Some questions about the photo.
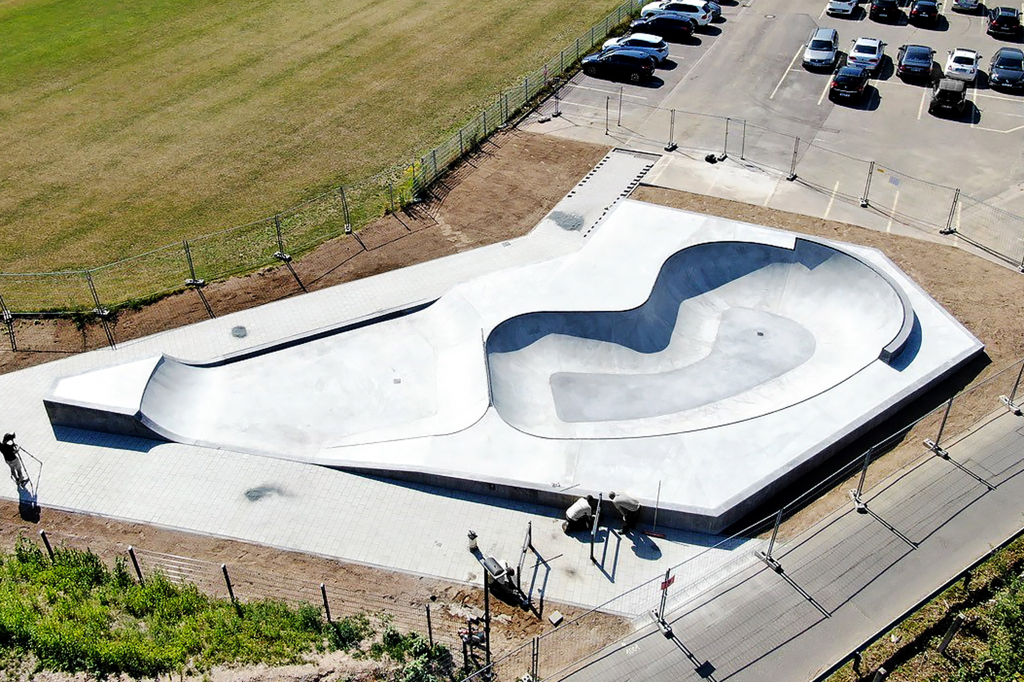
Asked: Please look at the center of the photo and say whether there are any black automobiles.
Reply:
No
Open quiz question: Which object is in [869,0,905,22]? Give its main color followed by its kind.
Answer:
black car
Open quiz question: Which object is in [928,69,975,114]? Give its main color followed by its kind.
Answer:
black car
